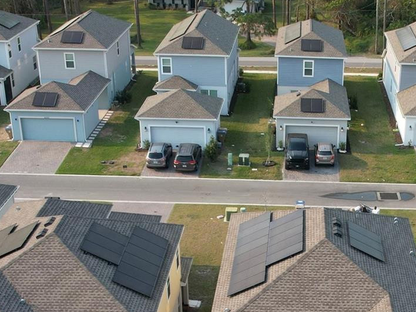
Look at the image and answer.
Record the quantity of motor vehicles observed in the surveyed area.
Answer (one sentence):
There are 4 motor vehicles in the image.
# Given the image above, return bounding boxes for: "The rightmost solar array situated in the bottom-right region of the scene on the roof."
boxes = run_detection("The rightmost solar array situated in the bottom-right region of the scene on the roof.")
[349,218,387,259]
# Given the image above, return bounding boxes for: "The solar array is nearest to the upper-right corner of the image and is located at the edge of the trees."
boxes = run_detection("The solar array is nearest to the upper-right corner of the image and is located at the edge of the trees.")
[396,25,416,49]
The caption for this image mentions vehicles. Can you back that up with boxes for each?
[311,138,337,164]
[174,141,202,168]
[145,138,174,167]
[283,135,311,169]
